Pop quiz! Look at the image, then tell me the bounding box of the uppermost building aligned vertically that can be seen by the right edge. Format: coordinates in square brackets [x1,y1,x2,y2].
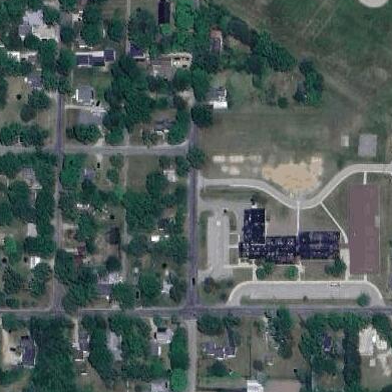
[349,186,383,275]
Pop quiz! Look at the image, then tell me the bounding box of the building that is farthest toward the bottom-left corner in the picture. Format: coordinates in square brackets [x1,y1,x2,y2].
[22,336,36,369]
